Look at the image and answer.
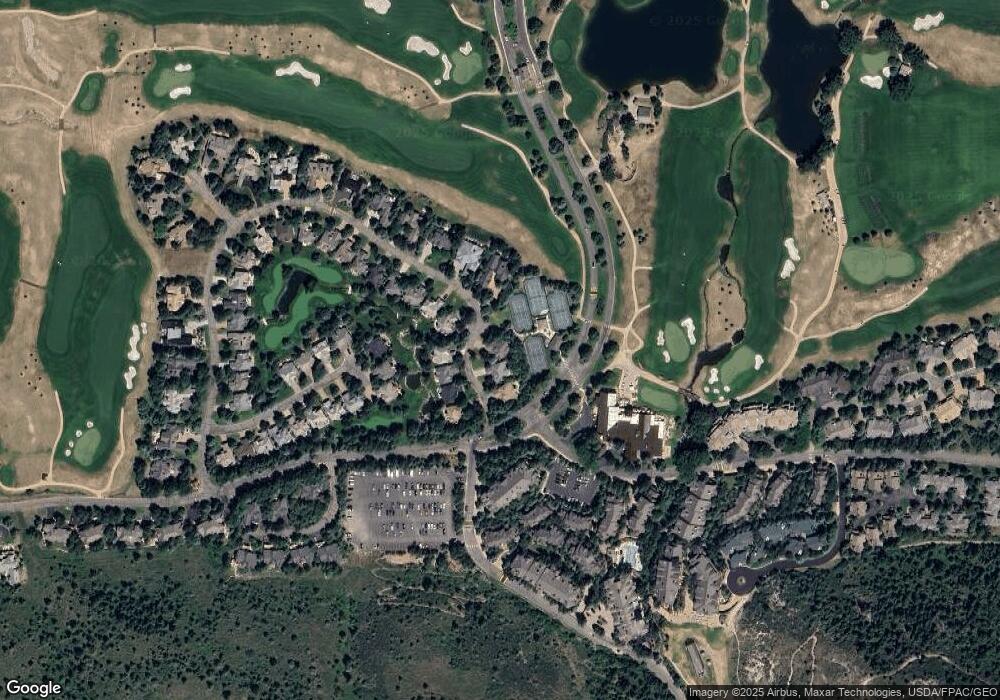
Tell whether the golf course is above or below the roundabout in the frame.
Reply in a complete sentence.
Within the scene, the golf course can be found above the roundabout.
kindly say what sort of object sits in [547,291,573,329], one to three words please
tennis court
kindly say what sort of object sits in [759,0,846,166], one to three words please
pond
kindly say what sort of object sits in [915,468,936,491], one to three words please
house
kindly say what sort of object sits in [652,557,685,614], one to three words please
building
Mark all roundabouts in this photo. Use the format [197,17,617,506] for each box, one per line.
[728,567,757,596]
